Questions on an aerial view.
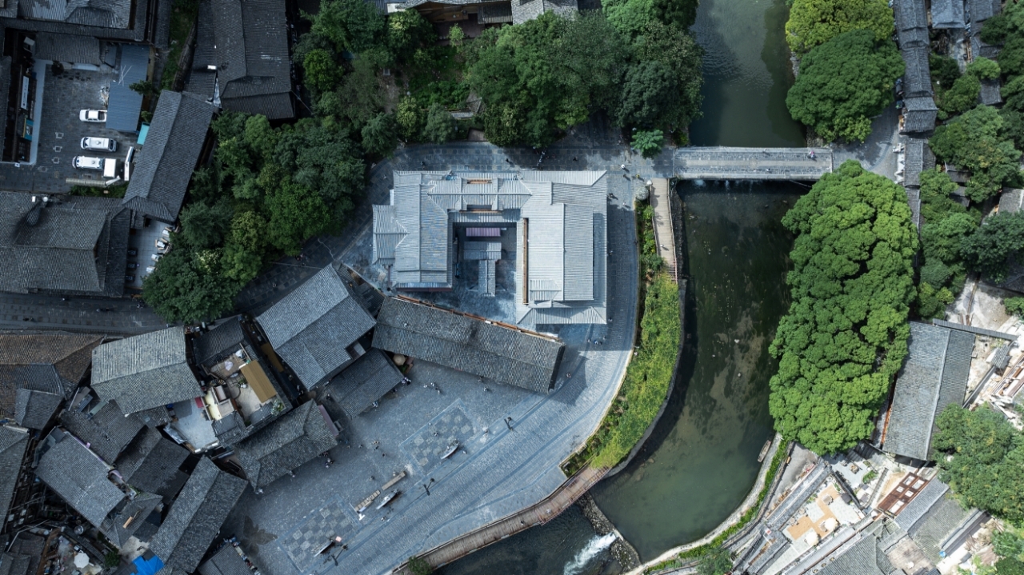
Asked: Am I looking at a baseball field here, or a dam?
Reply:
dam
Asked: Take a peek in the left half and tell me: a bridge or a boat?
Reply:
boat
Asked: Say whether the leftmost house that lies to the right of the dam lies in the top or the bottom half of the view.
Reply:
bottom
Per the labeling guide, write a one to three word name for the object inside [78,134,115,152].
vehicle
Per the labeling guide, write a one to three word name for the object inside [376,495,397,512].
boat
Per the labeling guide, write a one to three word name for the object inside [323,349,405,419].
house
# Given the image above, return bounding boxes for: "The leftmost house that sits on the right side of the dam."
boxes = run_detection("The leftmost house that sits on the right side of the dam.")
[755,462,833,532]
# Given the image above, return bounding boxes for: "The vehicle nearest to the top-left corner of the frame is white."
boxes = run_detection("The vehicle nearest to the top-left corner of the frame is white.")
[76,106,107,123]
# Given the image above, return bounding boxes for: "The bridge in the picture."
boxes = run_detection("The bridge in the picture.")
[673,144,834,178]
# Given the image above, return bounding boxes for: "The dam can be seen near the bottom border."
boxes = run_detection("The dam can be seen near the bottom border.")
[575,490,639,570]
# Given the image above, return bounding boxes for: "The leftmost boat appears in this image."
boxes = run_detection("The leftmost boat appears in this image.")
[312,544,331,560]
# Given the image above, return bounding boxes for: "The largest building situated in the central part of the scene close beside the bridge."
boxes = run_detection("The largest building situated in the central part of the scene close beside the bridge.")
[372,169,607,325]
